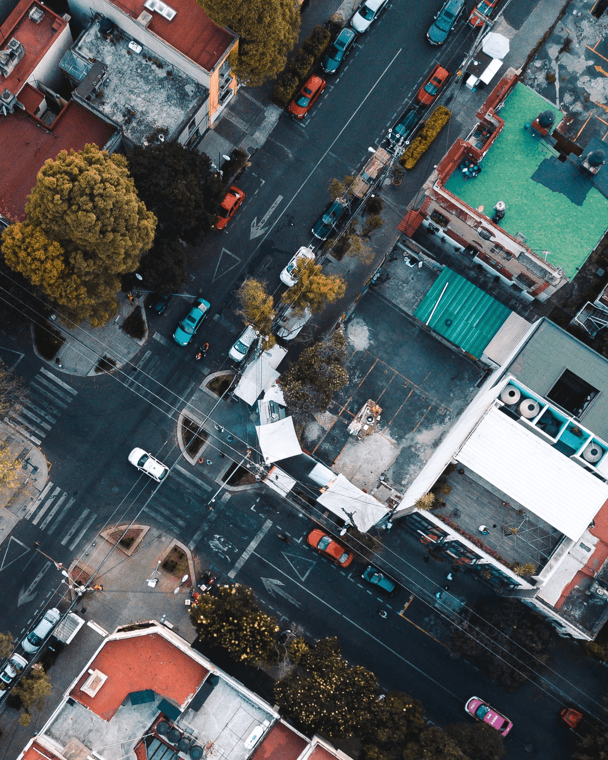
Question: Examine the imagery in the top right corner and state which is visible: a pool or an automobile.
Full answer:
It is an automobile that can be seen in the top right corner.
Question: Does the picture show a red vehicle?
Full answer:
Yes, I can see a red vehicle in this picture.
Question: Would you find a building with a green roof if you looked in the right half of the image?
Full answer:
Yes, the scene does show a building with a green roof in the right half of the image.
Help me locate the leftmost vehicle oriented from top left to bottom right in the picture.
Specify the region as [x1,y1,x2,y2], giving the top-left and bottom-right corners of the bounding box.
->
[124,445,174,487]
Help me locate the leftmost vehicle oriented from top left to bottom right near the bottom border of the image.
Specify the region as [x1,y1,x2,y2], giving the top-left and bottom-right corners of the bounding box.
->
[462,695,514,741]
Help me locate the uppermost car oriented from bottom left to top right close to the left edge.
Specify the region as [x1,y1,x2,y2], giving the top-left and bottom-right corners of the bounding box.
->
[20,605,63,658]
